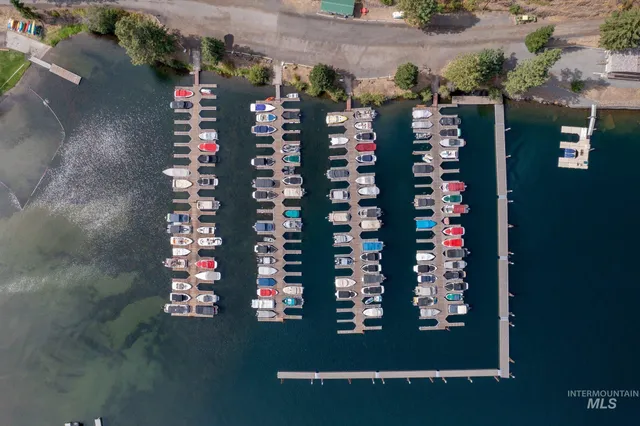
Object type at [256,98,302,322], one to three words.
pier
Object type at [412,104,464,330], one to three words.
pier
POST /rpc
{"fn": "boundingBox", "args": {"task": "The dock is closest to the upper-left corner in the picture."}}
[29,55,82,85]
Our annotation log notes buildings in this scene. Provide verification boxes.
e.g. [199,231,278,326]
[321,0,356,20]
[605,51,640,74]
